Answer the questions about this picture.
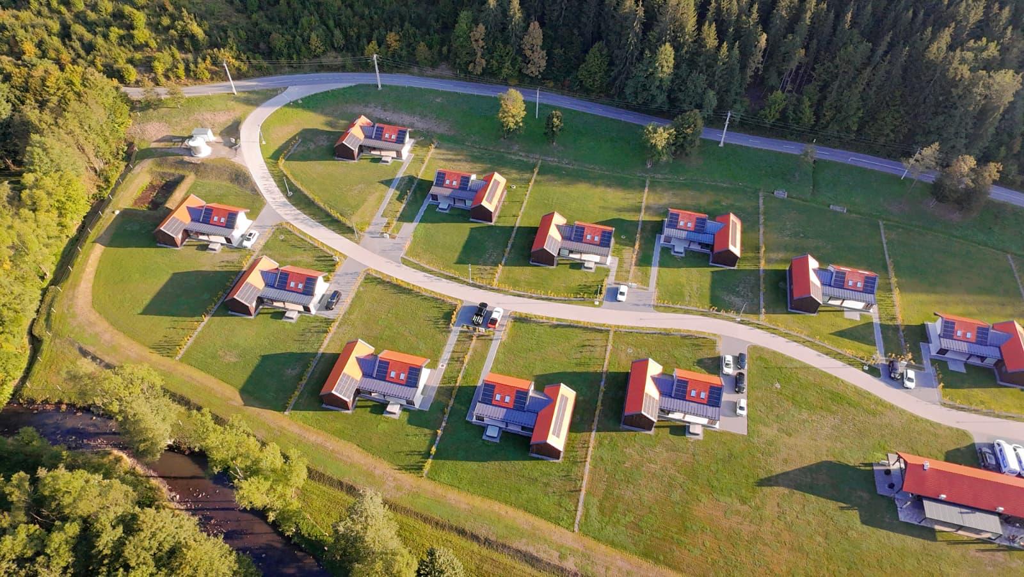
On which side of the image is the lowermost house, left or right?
right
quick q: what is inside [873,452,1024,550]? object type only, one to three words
house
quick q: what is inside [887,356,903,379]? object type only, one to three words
car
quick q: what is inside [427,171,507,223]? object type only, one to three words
house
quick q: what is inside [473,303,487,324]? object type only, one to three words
vehicle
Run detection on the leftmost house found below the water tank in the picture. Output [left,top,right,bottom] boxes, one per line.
[153,195,255,251]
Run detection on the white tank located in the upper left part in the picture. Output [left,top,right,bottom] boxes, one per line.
[187,134,214,159]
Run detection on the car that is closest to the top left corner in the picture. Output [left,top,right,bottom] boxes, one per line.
[244,230,258,246]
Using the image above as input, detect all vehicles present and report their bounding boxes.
[736,352,748,371]
[618,284,628,301]
[991,441,1020,474]
[735,396,747,418]
[325,291,342,309]
[244,230,258,246]
[473,303,487,324]
[734,372,747,394]
[887,356,903,379]
[903,368,916,389]
[977,446,996,470]
[722,354,734,375]
[489,310,502,327]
